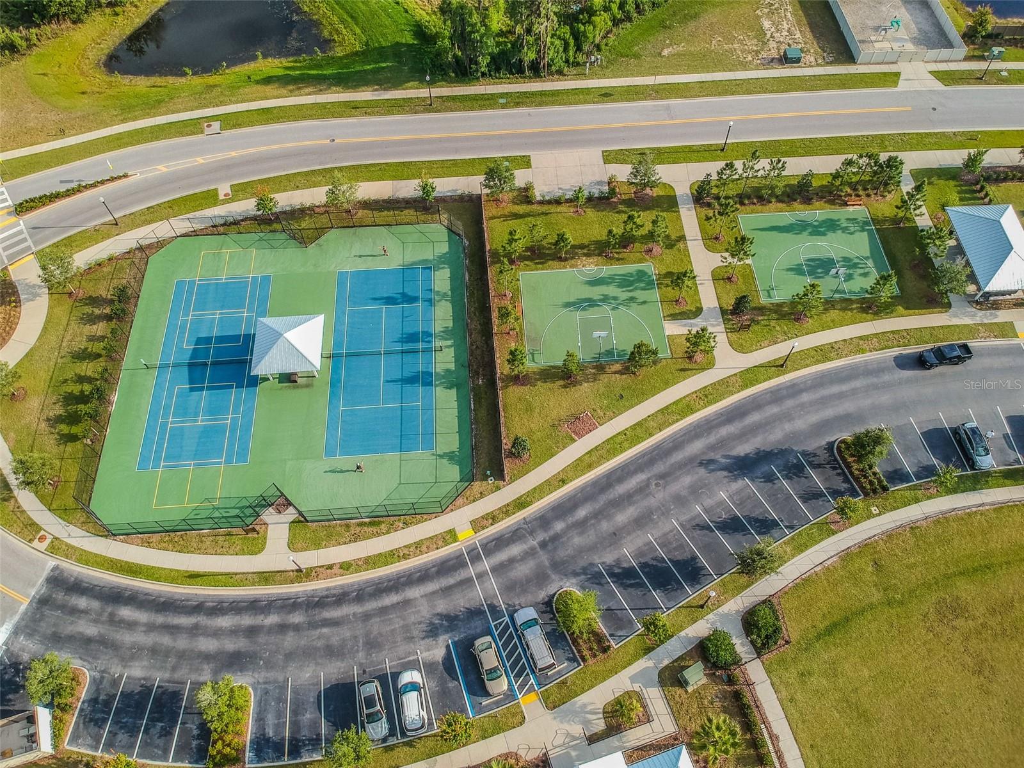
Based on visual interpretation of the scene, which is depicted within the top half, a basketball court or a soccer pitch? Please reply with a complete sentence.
The one visible within the top half is a basketball court.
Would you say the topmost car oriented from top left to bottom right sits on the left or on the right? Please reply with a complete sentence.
You can find the topmost car oriented from top left to bottom right on the right side of the picture.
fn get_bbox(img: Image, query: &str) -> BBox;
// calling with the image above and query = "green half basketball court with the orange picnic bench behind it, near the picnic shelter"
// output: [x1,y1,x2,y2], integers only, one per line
[737,208,902,303]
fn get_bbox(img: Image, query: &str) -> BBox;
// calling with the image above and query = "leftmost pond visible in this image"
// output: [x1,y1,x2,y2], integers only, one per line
[109,0,327,80]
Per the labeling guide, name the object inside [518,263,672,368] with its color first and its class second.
green basketball court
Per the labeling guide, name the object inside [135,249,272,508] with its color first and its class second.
blue tennis court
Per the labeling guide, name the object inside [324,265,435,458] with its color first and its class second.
blue tennis court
